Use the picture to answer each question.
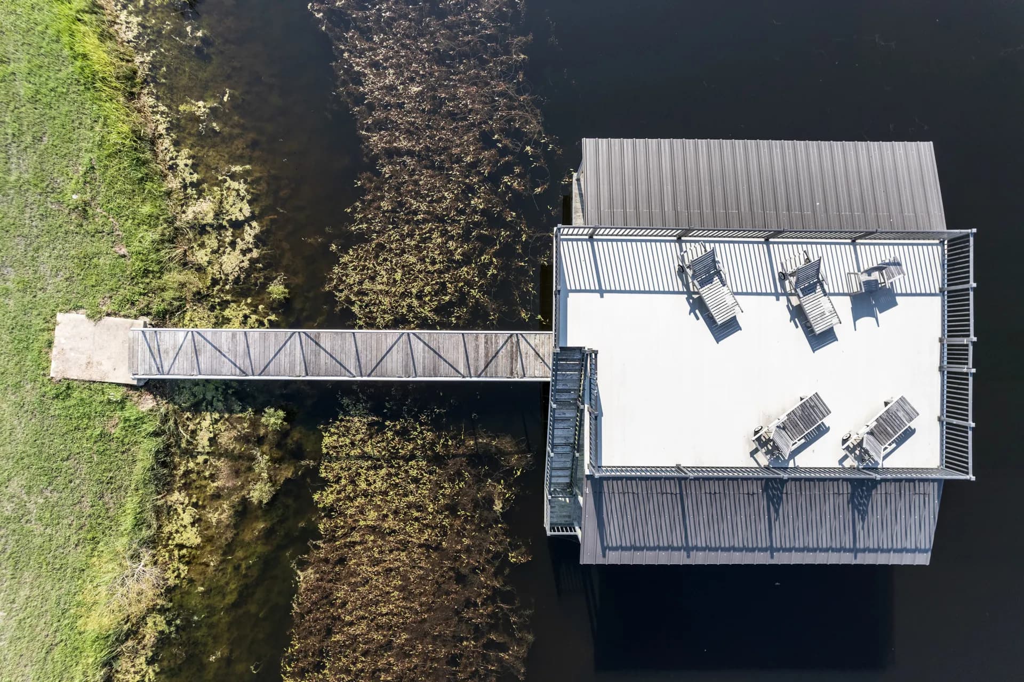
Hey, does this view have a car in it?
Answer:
No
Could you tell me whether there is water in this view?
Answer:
Yes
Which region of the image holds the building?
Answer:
right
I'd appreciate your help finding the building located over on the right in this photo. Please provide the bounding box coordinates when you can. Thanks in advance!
[543,138,977,567]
